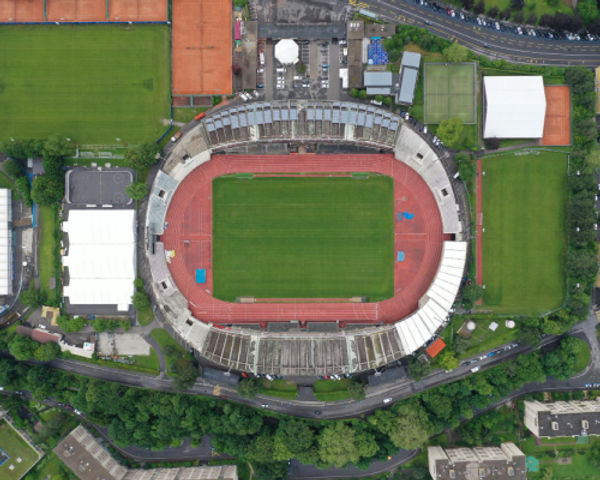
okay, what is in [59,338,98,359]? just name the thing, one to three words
building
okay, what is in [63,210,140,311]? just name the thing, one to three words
building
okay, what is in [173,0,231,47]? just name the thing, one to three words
tennis court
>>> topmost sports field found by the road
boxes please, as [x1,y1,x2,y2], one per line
[0,25,169,146]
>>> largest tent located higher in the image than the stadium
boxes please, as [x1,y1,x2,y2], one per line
[275,41,298,66]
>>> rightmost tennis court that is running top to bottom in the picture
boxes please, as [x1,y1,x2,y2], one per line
[541,86,570,145]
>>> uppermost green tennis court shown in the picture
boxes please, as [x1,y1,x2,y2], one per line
[425,63,475,124]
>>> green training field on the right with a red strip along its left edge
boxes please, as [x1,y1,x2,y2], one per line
[476,151,569,313]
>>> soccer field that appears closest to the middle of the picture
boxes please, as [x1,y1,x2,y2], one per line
[212,173,394,303]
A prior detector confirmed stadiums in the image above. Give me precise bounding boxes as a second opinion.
[144,98,468,379]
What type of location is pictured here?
sports ground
